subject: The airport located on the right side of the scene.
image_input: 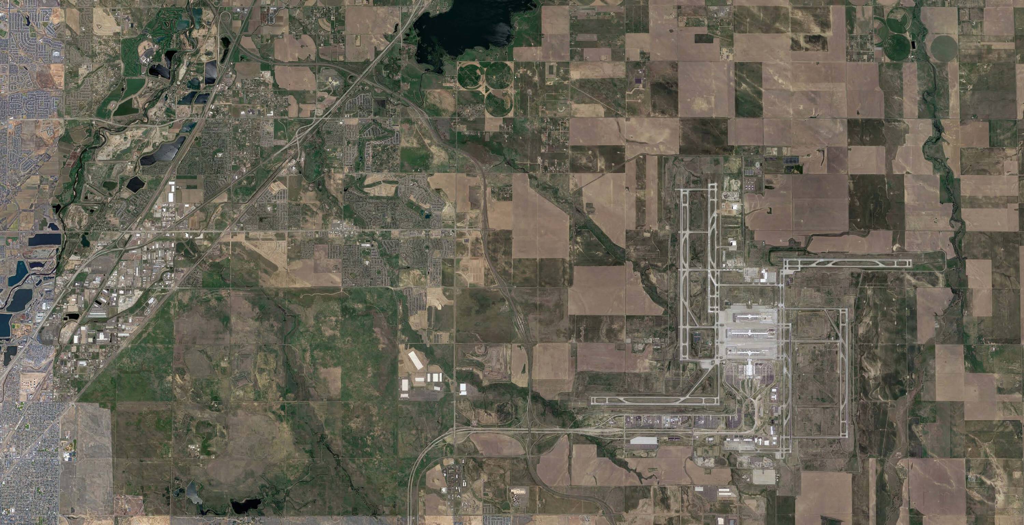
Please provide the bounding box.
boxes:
[591,183,912,460]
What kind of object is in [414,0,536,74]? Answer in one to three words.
pond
